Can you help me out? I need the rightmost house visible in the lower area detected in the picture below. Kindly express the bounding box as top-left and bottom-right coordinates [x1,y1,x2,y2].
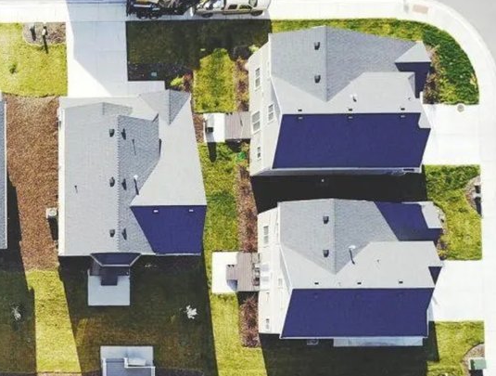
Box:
[256,198,437,339]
